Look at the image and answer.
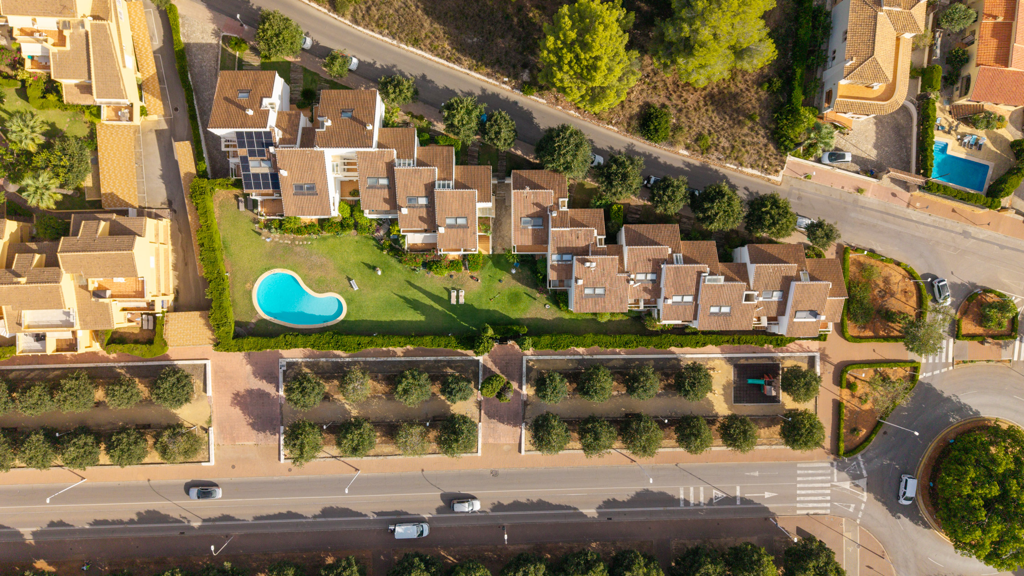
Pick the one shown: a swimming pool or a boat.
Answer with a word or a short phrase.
swimming pool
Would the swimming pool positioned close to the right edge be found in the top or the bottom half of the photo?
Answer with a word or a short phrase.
top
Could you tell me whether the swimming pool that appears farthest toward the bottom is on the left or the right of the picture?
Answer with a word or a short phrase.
left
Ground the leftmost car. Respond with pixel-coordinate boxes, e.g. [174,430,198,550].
[189,484,223,501]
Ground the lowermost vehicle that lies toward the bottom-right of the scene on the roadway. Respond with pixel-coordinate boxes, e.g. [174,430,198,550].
[897,474,918,505]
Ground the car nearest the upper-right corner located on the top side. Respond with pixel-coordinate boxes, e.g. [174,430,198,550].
[819,149,853,165]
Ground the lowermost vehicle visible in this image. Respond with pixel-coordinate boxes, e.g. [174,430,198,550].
[387,521,429,540]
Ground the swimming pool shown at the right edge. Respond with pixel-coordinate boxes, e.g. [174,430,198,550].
[930,136,994,193]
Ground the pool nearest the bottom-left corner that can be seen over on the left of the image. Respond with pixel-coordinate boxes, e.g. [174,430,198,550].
[252,268,347,329]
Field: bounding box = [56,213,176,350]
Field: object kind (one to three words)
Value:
building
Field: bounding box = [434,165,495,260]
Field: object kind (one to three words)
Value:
house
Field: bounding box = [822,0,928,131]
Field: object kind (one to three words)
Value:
house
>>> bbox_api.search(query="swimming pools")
[930,136,994,193]
[252,268,347,329]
